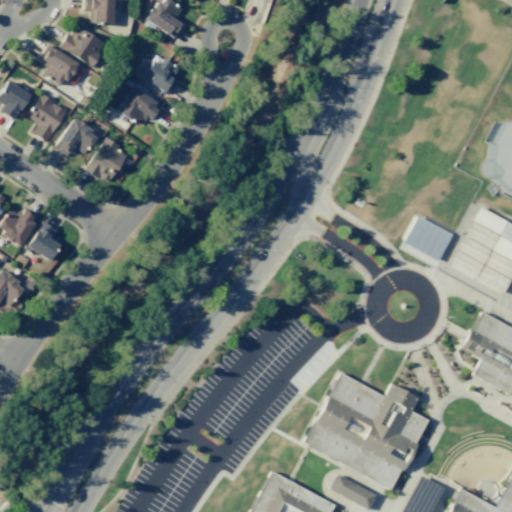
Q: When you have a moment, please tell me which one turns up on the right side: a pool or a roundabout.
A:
roundabout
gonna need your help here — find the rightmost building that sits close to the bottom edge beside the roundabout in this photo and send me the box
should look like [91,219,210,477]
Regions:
[306,372,430,488]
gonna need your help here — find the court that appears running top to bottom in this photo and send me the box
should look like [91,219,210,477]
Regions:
[480,122,512,190]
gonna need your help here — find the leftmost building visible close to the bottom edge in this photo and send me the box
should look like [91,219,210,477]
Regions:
[246,472,336,512]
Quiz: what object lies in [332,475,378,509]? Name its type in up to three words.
building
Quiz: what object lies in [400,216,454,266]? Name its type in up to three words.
building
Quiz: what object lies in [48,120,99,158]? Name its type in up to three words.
house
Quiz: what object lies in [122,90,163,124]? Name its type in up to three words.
house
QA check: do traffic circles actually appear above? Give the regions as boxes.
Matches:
[362,265,448,350]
